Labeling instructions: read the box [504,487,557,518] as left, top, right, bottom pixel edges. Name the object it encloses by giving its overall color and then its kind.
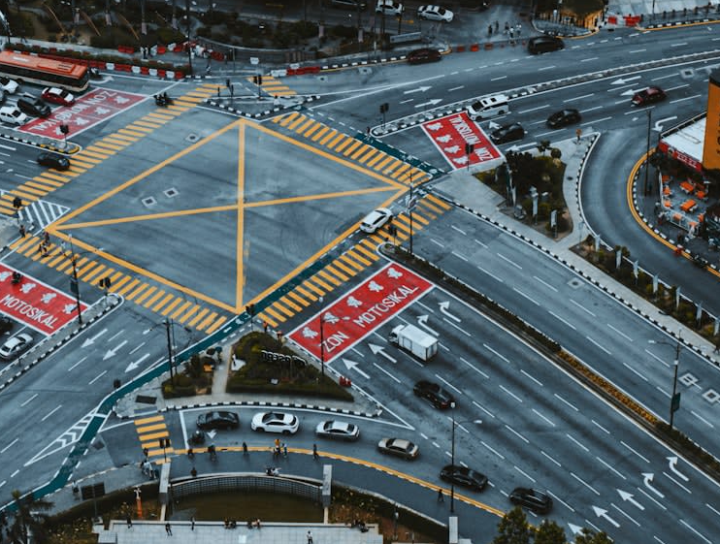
black car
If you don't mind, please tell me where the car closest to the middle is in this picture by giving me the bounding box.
[357,209,394,236]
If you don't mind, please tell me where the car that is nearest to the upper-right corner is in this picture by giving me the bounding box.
[628,89,670,108]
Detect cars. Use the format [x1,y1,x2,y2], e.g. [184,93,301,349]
[0,91,9,104]
[35,153,72,173]
[0,76,19,94]
[628,89,670,108]
[527,36,566,56]
[489,124,527,144]
[412,382,457,412]
[404,48,445,66]
[467,92,510,118]
[14,93,55,118]
[0,317,15,338]
[0,106,30,126]
[415,7,455,24]
[438,466,491,493]
[313,419,364,444]
[250,411,299,435]
[373,437,425,463]
[38,89,78,107]
[0,333,36,363]
[195,411,243,432]
[357,209,394,236]
[544,110,586,131]
[504,487,557,518]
